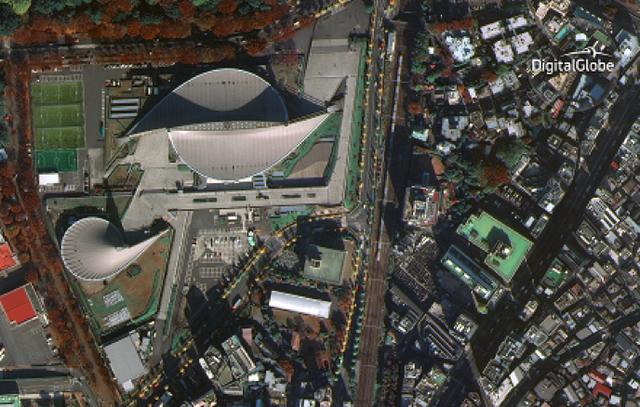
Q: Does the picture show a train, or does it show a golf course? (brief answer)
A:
train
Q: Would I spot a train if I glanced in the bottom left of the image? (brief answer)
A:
No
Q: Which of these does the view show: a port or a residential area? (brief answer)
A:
residential area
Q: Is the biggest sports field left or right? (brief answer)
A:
left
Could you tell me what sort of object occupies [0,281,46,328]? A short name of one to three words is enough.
building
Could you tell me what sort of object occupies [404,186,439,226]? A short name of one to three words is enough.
building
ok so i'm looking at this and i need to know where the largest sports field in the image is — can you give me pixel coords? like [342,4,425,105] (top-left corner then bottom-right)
[31,65,150,194]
